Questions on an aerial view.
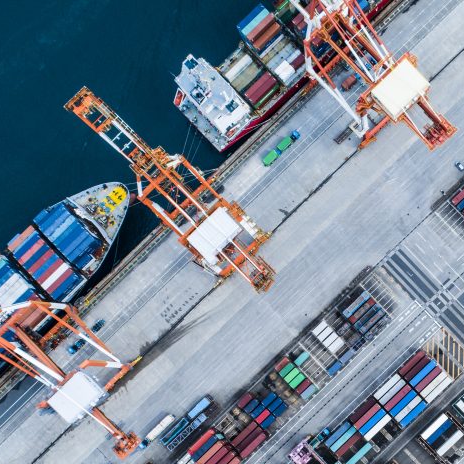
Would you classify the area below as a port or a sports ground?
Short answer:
port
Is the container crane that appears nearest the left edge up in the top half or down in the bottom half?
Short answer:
bottom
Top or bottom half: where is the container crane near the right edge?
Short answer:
top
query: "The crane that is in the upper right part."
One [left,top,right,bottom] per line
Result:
[292,0,460,156]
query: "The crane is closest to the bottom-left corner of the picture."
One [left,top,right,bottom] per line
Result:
[0,295,144,455]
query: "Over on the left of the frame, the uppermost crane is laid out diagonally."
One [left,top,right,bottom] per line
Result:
[70,87,276,299]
